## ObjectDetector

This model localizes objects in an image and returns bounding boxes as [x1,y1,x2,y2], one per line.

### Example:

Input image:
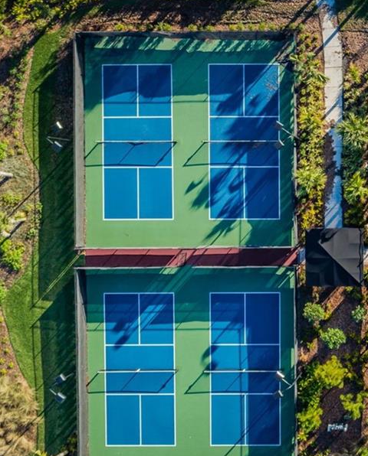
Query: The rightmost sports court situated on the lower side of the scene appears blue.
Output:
[193,269,295,456]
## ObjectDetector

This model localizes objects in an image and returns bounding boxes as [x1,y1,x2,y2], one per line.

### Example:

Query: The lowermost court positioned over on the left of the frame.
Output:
[86,269,193,456]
